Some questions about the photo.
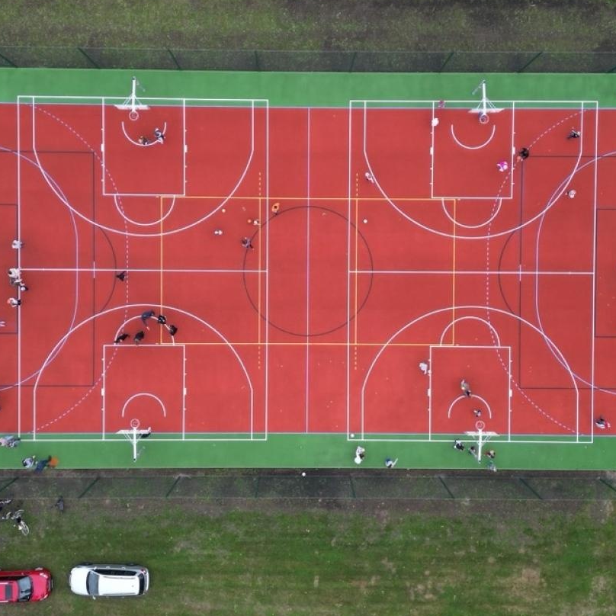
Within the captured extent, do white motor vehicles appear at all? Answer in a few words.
Yes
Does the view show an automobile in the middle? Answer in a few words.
No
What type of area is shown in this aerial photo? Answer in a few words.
sports ground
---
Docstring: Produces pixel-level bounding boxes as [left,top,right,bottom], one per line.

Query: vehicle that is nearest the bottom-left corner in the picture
[0,568,54,605]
